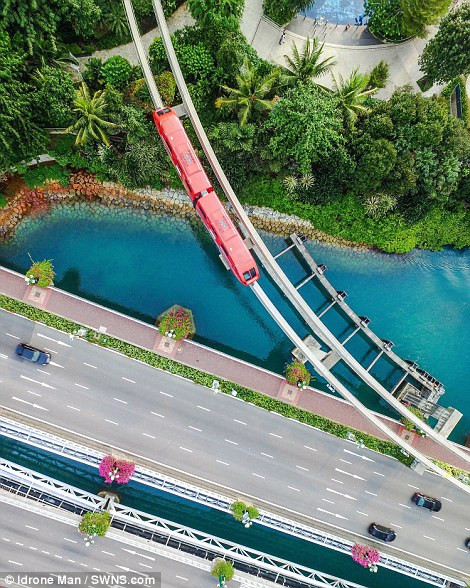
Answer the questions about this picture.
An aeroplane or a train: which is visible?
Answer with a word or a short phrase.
train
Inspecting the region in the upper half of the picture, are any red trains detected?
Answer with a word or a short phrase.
Yes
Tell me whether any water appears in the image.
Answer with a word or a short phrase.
Yes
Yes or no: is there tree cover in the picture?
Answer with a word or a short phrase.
Yes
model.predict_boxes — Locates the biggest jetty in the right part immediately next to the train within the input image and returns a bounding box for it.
[273,233,448,396]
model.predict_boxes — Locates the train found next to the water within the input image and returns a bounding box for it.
[155,107,257,287]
